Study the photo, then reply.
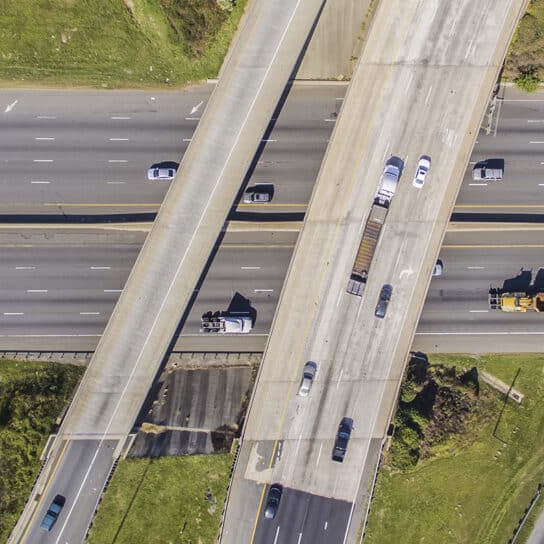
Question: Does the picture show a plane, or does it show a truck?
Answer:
truck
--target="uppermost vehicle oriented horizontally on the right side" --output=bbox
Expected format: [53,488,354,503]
[472,166,503,180]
